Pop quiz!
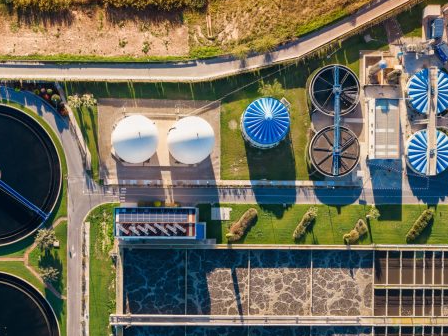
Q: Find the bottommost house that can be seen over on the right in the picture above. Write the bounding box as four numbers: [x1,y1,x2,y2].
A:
[364,98,400,161]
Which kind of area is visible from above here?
industrial area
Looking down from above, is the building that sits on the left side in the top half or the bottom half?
bottom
